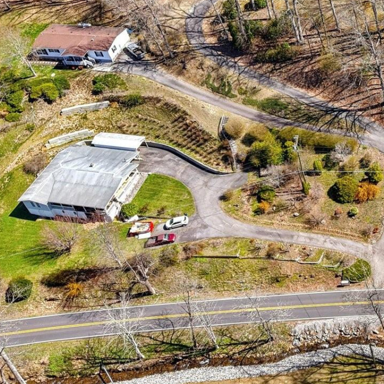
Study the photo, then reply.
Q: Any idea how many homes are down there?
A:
2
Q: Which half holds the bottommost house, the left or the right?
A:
left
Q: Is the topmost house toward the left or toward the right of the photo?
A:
left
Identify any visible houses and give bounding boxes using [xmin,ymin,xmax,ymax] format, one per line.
[17,147,150,232]
[30,26,134,65]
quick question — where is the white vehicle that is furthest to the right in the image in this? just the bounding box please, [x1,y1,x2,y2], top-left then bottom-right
[164,214,188,229]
